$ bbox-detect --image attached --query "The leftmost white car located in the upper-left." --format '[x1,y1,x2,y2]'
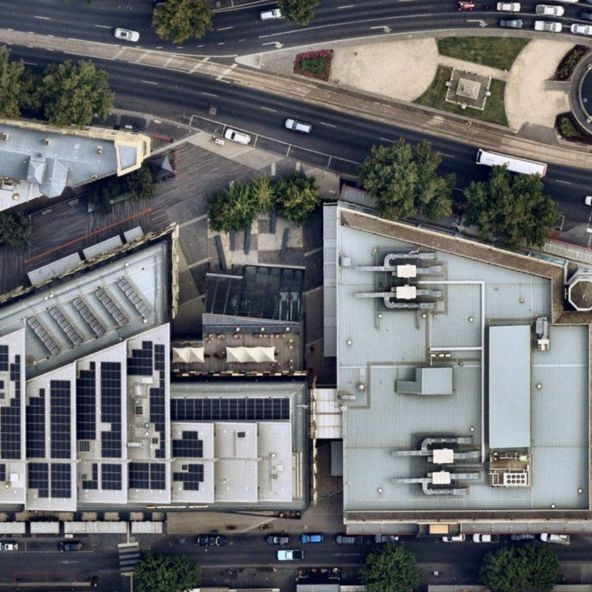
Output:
[115,28,140,41]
